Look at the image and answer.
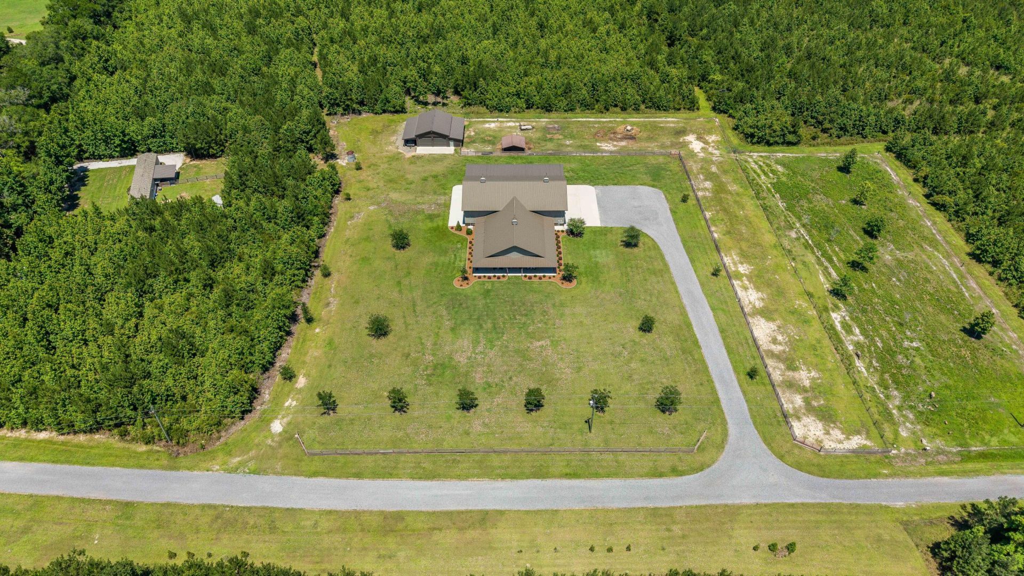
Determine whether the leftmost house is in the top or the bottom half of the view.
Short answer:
top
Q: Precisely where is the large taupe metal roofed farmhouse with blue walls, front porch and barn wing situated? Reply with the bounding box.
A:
[461,164,568,276]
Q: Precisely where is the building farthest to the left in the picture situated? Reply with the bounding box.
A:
[128,154,181,204]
